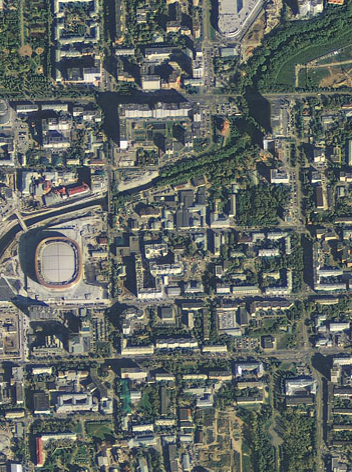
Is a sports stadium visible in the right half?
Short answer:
No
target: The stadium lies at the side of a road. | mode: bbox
[35,237,82,289]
